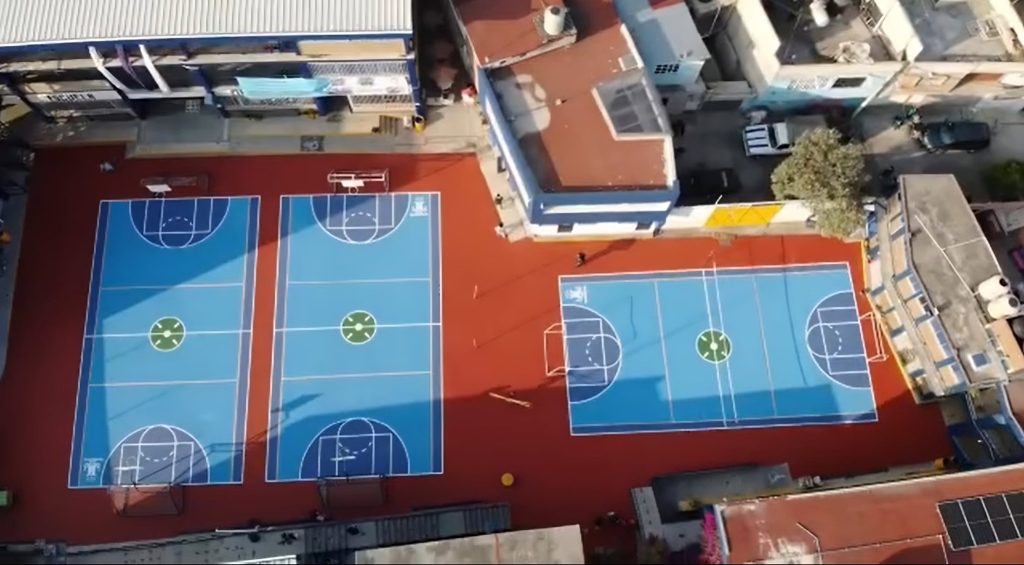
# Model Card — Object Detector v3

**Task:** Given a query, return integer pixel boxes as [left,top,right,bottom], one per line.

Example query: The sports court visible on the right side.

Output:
[559,262,878,436]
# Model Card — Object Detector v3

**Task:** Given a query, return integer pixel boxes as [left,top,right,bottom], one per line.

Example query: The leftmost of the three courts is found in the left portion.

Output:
[66,196,261,488]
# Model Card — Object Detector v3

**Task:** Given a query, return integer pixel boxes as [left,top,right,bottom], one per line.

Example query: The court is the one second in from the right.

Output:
[266,191,444,481]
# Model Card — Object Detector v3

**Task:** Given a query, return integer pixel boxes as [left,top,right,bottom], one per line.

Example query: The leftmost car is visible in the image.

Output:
[679,170,751,203]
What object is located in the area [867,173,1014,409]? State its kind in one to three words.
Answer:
building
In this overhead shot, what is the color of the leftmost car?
black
